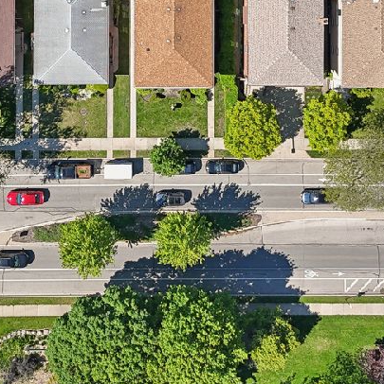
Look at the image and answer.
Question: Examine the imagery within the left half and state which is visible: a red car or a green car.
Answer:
red car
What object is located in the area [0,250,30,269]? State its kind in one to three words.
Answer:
car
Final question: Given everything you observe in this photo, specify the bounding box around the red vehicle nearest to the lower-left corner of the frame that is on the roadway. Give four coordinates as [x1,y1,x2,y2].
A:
[9,190,44,206]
